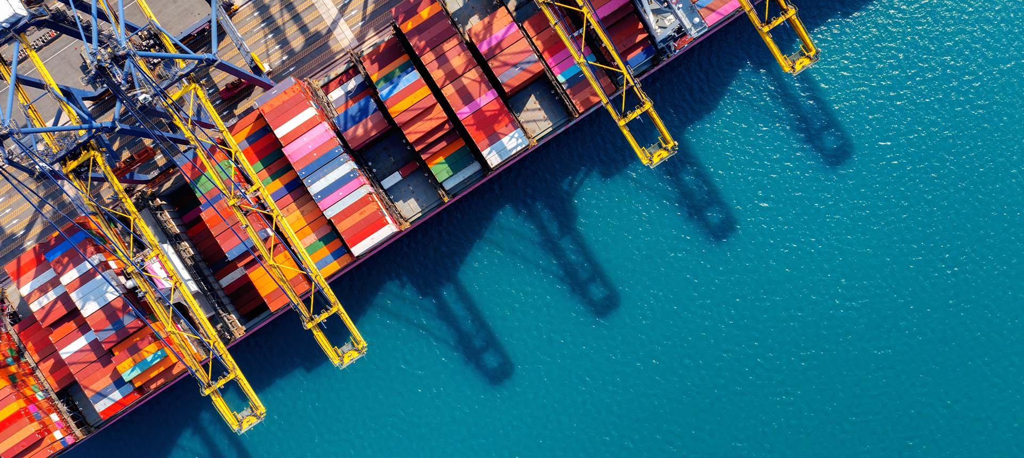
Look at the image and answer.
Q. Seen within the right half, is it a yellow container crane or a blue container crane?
yellow container crane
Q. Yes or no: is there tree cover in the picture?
No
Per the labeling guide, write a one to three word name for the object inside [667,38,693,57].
boat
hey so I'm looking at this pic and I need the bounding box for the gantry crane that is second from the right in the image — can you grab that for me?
[535,0,679,174]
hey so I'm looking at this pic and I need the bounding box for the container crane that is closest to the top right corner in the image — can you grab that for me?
[742,0,823,80]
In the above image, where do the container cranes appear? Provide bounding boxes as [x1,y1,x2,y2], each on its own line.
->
[742,0,823,80]
[535,0,679,174]
[0,0,269,437]
[59,0,368,374]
